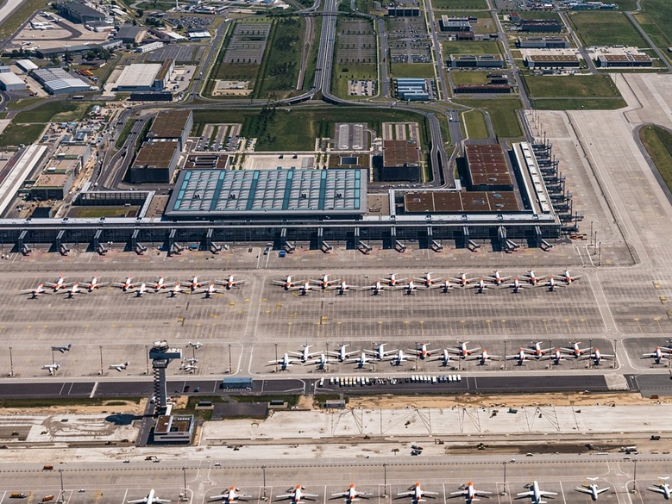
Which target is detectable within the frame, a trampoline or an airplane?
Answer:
airplane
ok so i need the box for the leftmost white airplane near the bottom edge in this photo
[127,487,171,504]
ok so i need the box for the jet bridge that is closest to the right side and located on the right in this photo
[541,233,561,246]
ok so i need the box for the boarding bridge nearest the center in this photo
[324,235,344,247]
